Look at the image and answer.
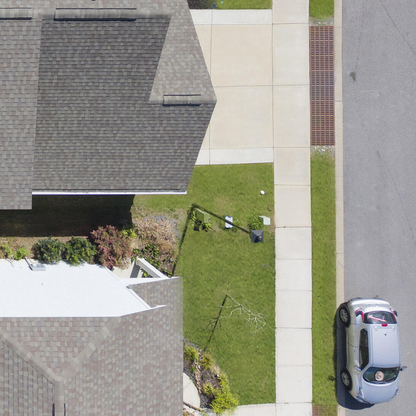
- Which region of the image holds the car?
bottom right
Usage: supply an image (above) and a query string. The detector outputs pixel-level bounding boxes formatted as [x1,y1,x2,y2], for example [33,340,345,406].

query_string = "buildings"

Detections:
[0,253,182,416]
[0,0,217,210]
